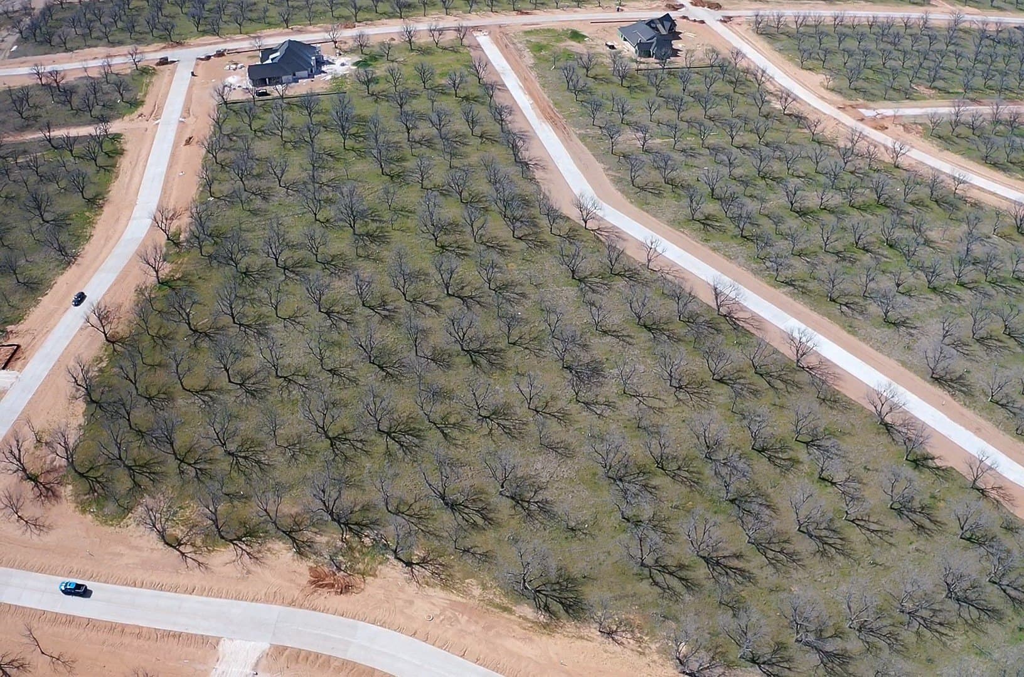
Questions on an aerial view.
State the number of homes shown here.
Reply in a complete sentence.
In total, 2 homes can be seen.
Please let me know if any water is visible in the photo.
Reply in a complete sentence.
No, the scene doesn't show any water.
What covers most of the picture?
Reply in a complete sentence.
The scene is dominated by grass.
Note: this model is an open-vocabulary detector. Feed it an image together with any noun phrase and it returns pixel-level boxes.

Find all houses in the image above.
[617,10,678,57]
[251,37,326,86]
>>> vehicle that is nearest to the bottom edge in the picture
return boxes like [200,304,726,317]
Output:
[56,581,88,596]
